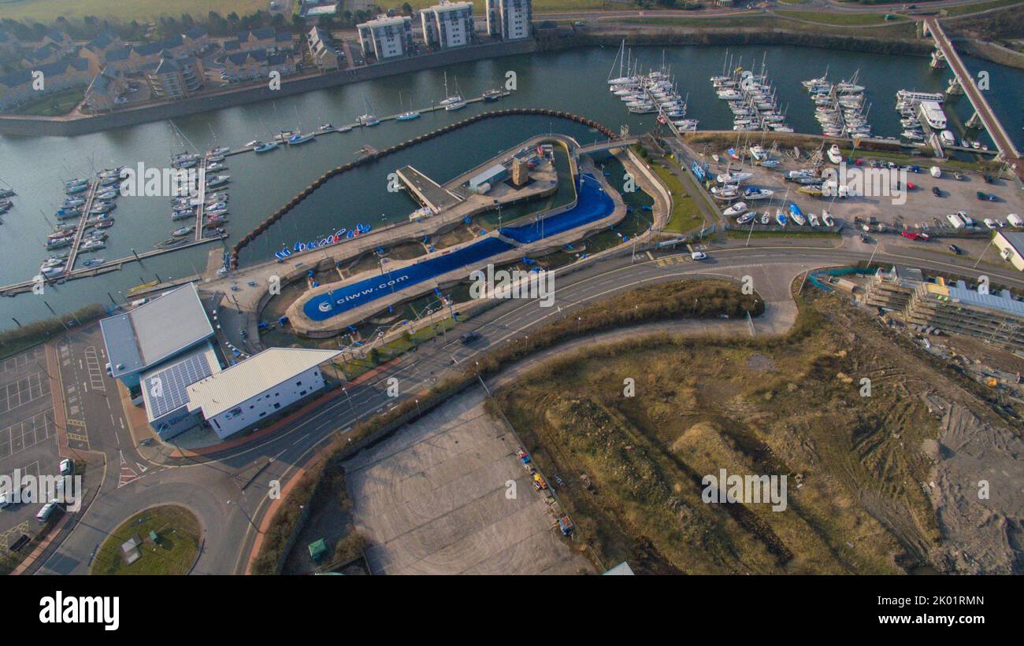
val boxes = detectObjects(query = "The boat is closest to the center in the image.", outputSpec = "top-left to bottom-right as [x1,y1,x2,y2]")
[409,206,433,220]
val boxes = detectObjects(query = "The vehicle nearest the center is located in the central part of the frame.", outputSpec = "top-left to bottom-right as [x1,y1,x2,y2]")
[458,327,479,345]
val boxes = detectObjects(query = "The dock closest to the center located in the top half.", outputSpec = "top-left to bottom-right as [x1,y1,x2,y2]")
[395,164,464,213]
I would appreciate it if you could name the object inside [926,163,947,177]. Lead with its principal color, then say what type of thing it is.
white camper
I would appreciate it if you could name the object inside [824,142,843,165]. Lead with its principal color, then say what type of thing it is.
white boat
